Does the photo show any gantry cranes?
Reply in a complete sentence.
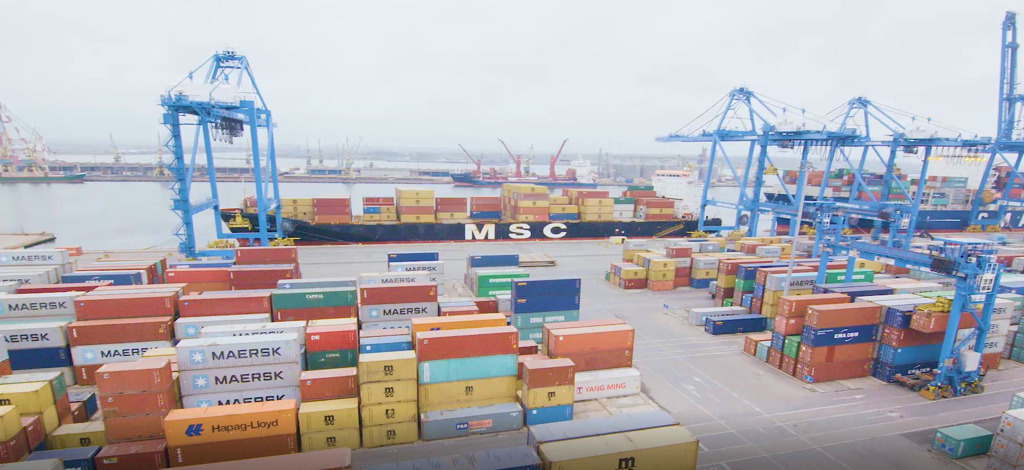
Yes, the photo shows a gantry crane.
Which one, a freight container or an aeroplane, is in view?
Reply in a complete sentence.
The image shows a freight container.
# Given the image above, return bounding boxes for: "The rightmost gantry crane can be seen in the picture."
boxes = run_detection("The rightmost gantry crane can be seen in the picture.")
[967,14,1024,227]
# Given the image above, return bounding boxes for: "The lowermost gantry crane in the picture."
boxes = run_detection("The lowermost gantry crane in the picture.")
[804,230,1019,401]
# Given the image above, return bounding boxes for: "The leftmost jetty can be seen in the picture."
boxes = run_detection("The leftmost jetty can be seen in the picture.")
[0,232,55,252]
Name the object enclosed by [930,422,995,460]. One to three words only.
shipping container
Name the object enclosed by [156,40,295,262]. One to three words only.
container crane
